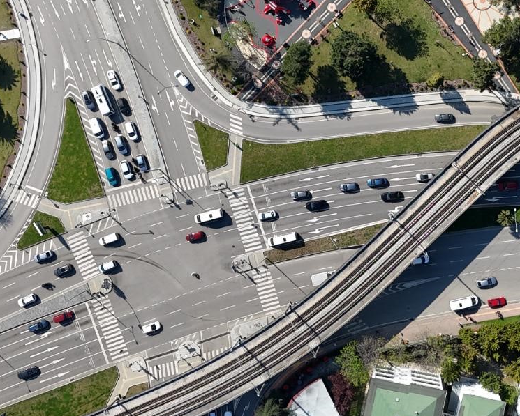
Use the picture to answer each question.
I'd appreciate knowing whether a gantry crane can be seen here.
No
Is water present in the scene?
No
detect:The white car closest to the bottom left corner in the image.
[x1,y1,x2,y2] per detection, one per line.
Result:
[19,294,38,307]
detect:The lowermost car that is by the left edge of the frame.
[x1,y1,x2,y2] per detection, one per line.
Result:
[17,366,40,380]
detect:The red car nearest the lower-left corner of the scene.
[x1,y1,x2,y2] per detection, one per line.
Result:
[52,309,75,325]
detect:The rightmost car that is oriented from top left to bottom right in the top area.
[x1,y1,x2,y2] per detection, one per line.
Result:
[172,69,191,89]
